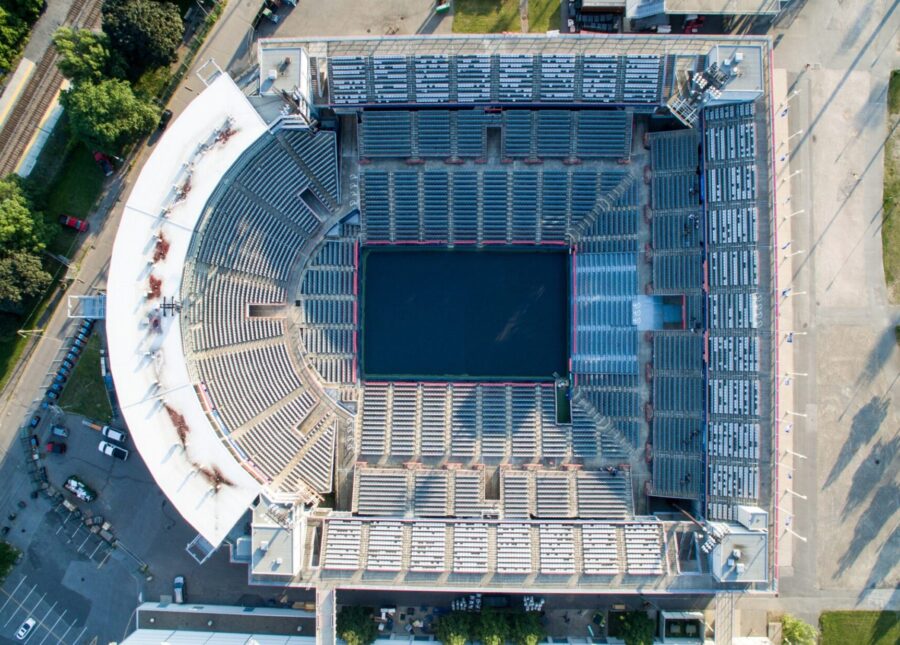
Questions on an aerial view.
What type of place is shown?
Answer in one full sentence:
The picture captures a sports ground.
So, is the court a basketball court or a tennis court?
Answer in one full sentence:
What you see as the court is a tennis court.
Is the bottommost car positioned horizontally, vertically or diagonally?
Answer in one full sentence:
The bottommost car runs diagonally in the image.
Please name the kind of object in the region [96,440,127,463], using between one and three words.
truck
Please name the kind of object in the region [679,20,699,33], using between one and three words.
vehicle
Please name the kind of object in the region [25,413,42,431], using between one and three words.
car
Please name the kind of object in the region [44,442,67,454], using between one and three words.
vehicle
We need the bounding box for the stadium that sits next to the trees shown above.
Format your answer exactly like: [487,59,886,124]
[64,40,781,591]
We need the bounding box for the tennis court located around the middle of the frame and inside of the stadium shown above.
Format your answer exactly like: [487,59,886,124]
[359,246,572,380]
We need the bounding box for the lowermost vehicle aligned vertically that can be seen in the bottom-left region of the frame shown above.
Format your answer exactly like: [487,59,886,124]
[171,577,184,605]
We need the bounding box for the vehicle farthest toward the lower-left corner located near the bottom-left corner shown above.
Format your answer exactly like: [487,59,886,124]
[11,619,36,643]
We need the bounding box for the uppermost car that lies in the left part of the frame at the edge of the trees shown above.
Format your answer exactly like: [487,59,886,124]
[156,106,175,131]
